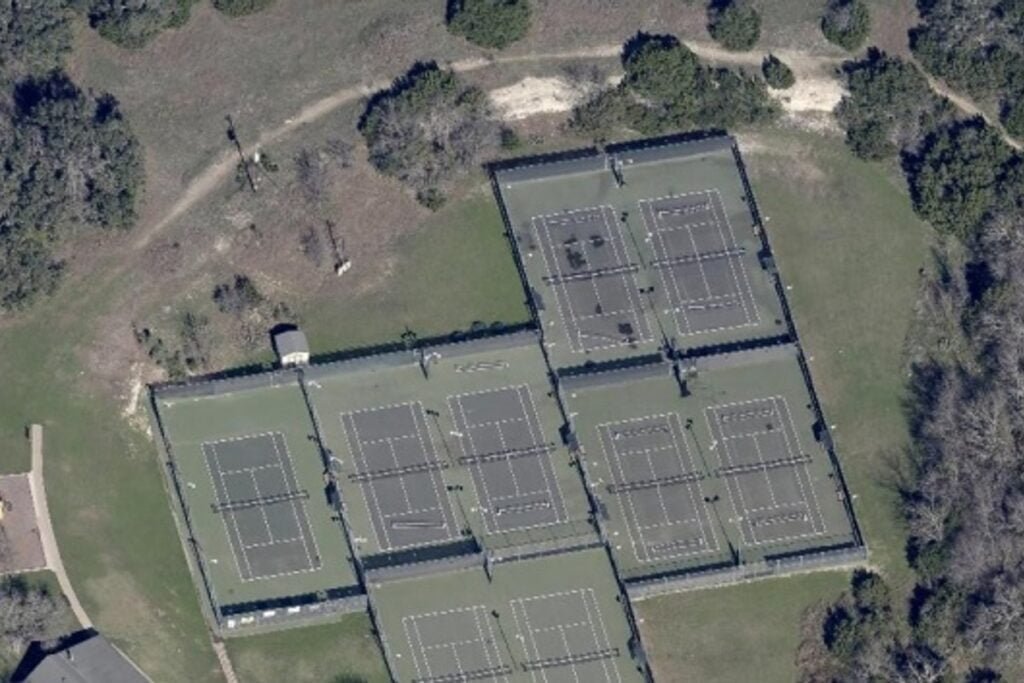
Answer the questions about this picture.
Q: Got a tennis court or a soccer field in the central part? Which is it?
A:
tennis court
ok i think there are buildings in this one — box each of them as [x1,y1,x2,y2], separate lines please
[276,329,310,369]
[24,634,148,683]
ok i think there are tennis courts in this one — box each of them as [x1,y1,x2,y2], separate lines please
[704,396,826,545]
[202,431,322,581]
[340,401,460,550]
[511,588,619,683]
[639,189,759,335]
[597,412,719,562]
[448,385,568,534]
[403,606,506,683]
[533,205,652,351]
